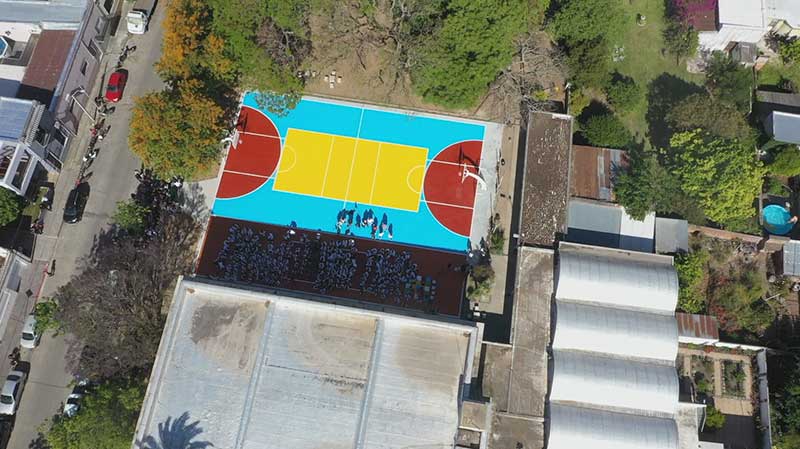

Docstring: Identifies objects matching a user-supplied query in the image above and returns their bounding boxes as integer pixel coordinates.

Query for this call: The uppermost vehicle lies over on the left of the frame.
[129,0,155,32]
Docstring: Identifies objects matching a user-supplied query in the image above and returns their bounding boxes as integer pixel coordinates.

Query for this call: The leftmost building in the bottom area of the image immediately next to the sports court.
[134,276,477,449]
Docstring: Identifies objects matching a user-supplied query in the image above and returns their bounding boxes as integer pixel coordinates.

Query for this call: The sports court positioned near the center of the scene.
[196,94,484,313]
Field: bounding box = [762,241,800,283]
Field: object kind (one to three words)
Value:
shed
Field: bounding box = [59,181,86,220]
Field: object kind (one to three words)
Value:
car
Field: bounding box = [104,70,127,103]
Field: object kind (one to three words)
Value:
car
